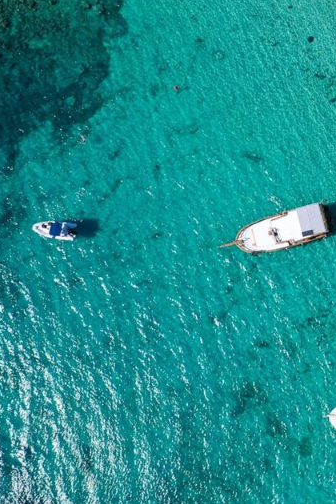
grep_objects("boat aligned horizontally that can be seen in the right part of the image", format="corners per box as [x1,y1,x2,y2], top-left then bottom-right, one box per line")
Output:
[220,200,336,251]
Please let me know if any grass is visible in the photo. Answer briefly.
No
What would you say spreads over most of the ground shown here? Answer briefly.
water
